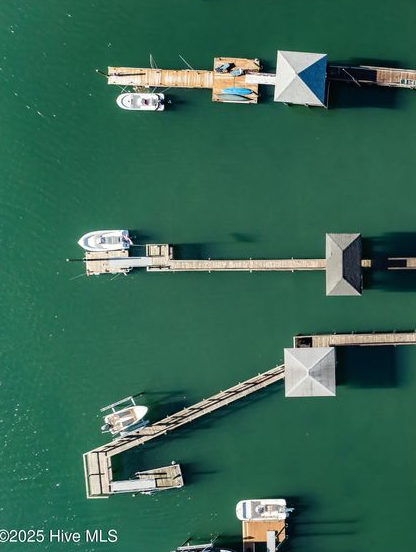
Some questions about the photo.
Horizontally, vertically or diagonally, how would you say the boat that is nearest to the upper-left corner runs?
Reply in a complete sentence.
Seen from above, the boat that is nearest to the upper-left corner lies horizontally.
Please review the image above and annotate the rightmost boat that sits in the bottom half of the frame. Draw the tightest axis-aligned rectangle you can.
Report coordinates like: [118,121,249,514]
[237,498,302,520]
